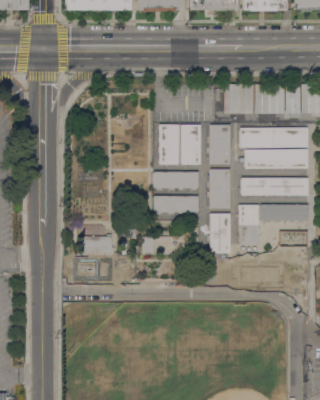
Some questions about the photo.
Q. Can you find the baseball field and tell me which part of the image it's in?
bottom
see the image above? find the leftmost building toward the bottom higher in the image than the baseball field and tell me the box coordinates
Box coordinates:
[84,236,113,256]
